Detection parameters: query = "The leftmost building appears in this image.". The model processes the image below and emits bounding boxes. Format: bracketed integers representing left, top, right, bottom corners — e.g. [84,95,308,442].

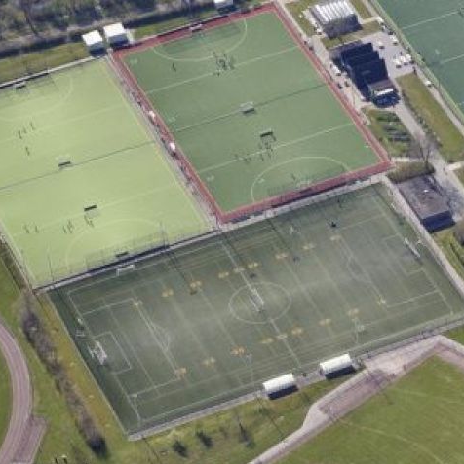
[82,31,104,52]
